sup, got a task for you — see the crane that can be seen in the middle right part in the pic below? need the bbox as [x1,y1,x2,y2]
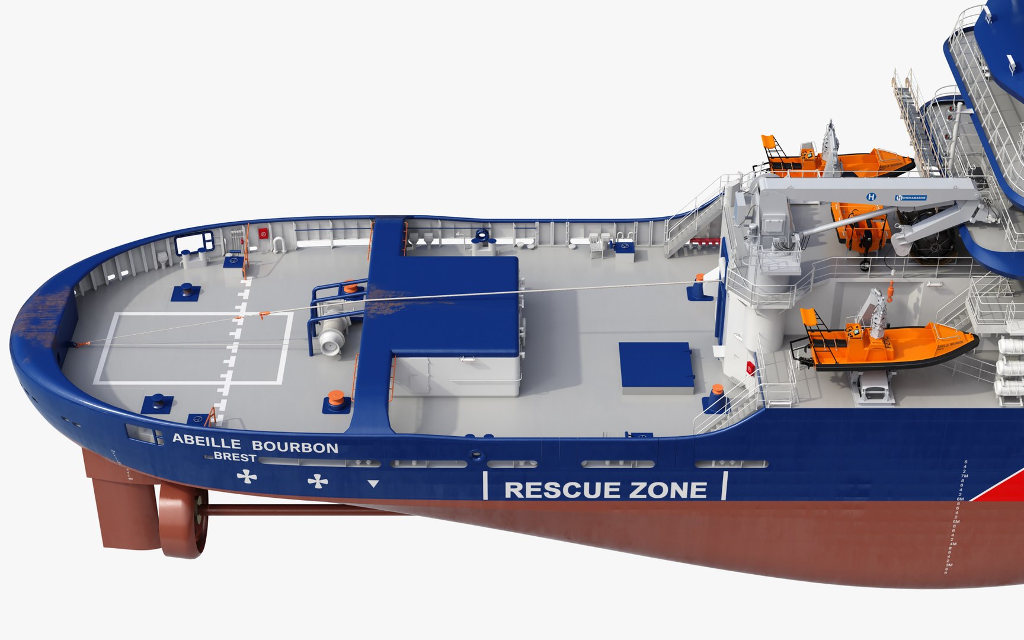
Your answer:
[732,169,1003,355]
